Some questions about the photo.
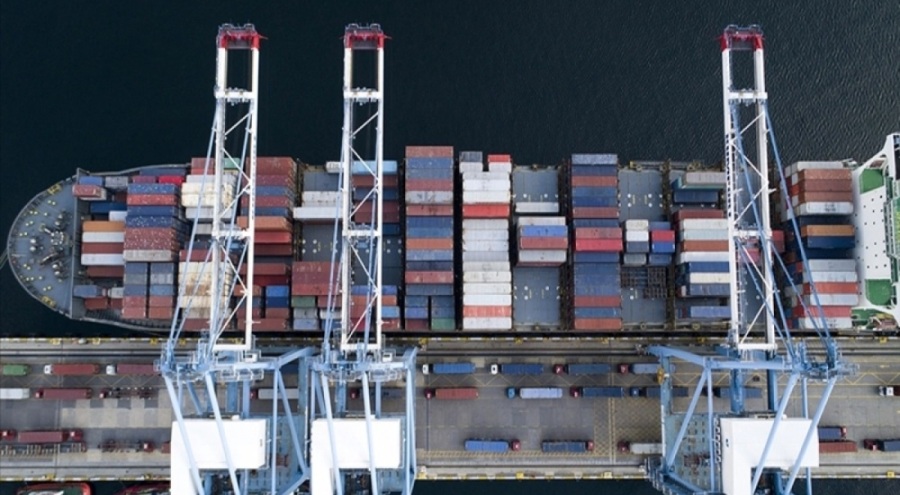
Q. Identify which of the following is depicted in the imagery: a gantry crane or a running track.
gantry crane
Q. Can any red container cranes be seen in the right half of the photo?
No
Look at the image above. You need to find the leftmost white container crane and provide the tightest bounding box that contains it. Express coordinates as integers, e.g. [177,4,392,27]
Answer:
[151,21,326,495]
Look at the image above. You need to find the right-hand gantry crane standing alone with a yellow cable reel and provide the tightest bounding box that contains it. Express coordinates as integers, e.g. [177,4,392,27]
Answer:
[636,22,850,495]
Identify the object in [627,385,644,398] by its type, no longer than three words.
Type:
vehicle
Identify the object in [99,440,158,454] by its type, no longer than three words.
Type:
vehicle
